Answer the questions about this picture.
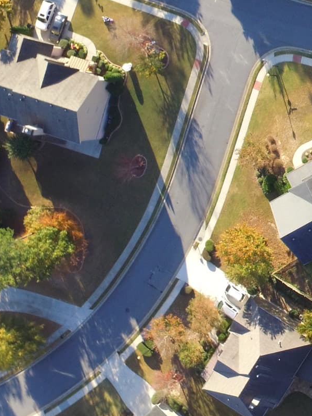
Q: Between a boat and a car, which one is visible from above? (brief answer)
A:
car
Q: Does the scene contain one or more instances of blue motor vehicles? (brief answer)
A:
No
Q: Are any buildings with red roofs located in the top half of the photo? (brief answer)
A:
No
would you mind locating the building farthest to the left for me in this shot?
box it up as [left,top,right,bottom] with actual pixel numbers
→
[0,35,113,140]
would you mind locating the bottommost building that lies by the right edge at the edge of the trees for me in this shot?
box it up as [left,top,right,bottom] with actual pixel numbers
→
[202,291,312,416]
